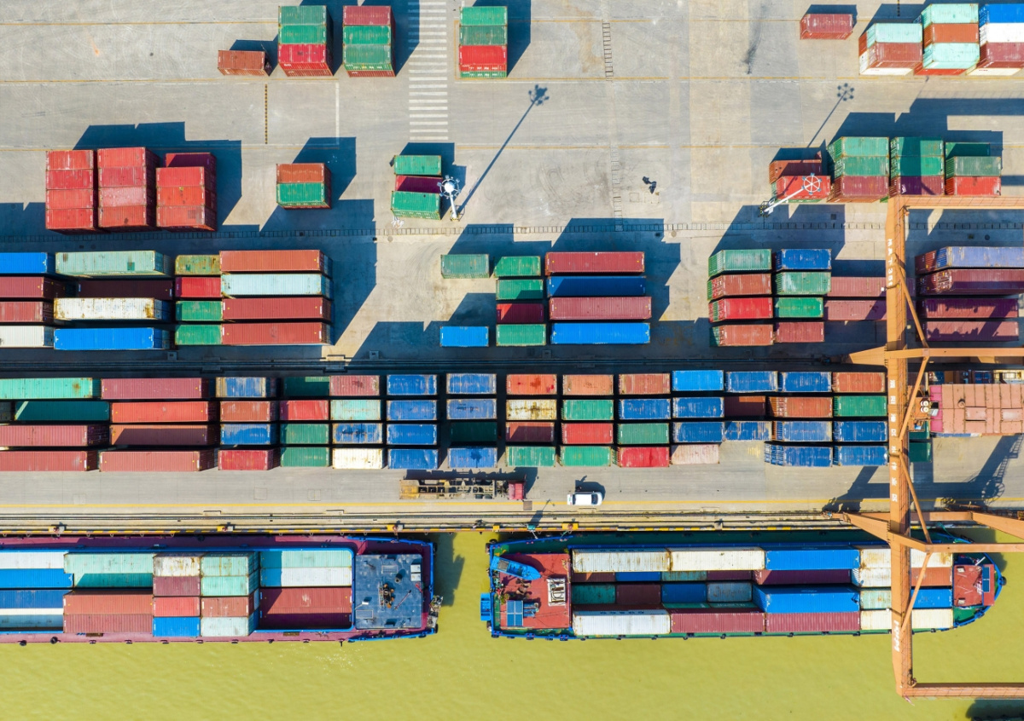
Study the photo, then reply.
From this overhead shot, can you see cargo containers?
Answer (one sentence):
Yes, there's a cargo container here.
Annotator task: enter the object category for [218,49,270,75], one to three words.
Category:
shipping container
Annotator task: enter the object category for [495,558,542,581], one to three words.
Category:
boat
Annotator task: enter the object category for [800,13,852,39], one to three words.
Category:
shipping container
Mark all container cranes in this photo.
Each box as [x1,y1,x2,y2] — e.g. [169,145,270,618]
[814,194,1024,701]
